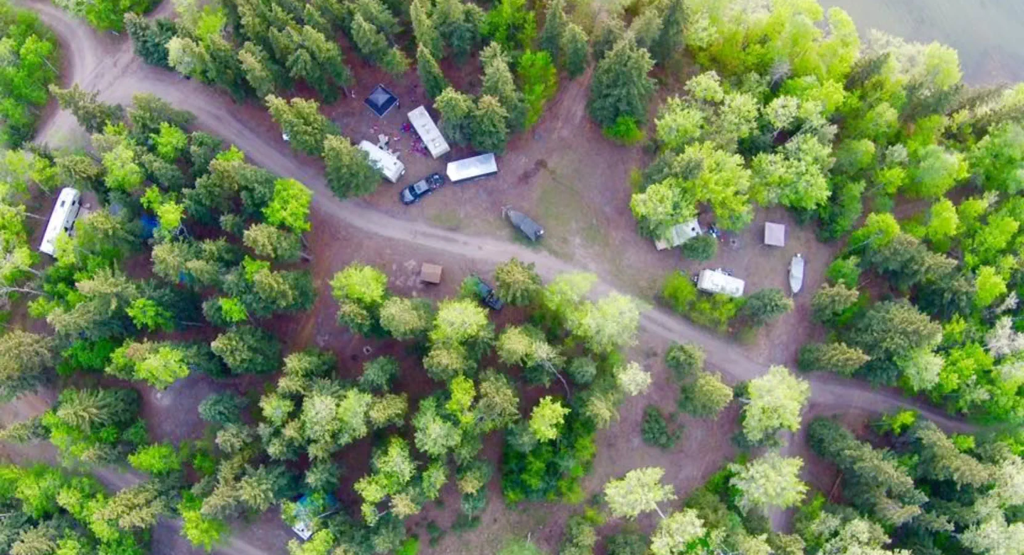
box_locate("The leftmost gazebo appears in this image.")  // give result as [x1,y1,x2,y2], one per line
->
[365,84,400,121]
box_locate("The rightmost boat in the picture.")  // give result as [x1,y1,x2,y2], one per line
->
[789,253,803,293]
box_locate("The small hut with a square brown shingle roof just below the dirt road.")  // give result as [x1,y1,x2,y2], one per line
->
[421,263,445,284]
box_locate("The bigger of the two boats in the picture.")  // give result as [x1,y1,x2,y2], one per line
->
[505,209,545,241]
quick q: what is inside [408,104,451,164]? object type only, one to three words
trailer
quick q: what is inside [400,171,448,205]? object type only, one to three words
truck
